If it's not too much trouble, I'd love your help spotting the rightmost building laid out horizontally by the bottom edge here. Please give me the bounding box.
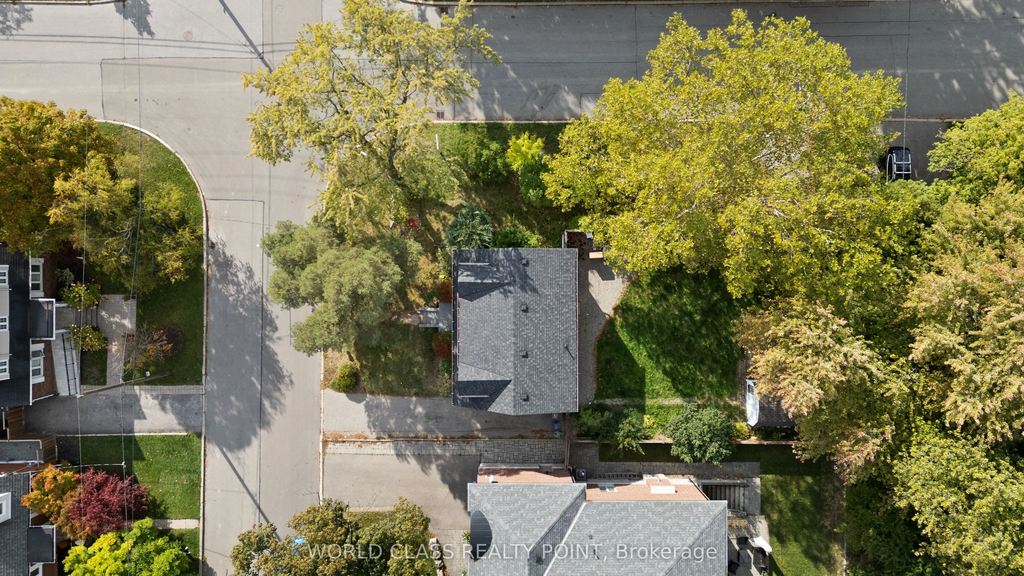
[466,462,729,576]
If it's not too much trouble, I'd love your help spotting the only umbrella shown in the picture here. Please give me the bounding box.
[752,535,771,555]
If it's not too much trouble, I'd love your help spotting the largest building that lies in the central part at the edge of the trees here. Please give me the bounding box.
[420,247,580,415]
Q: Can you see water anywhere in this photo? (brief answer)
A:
No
